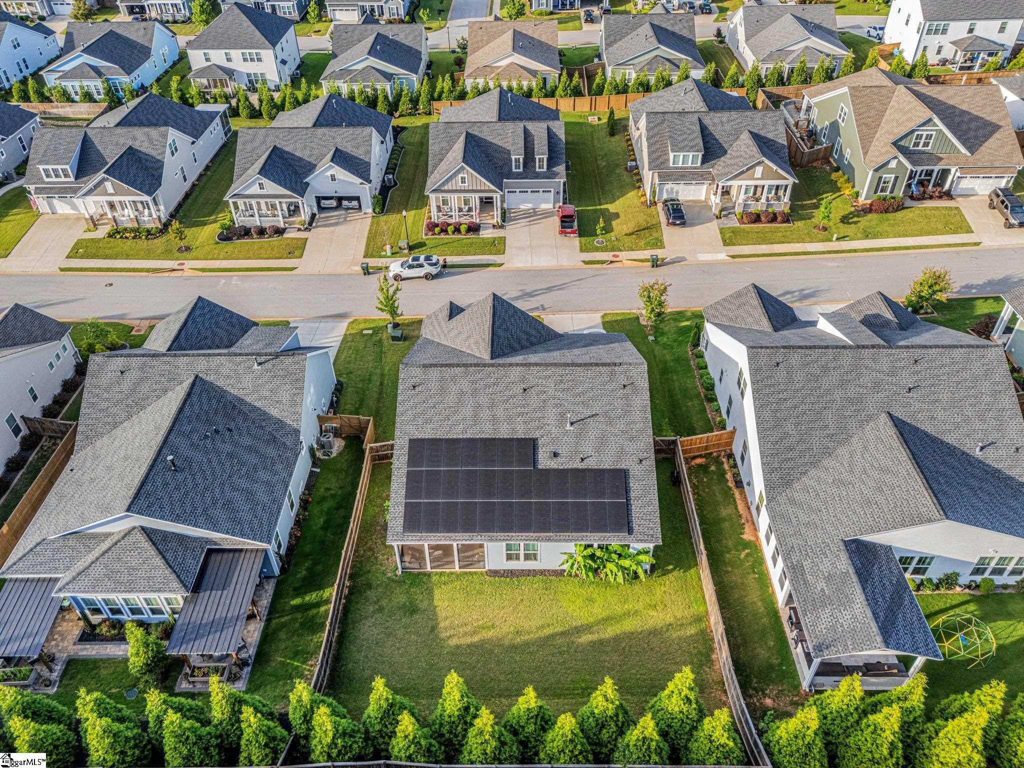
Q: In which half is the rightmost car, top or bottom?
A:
top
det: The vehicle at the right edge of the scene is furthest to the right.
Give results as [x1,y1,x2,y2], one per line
[987,183,1024,216]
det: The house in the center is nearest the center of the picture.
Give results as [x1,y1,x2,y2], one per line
[387,291,662,577]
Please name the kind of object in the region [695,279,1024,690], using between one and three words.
house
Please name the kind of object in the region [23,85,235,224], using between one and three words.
house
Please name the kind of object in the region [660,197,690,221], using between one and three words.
car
